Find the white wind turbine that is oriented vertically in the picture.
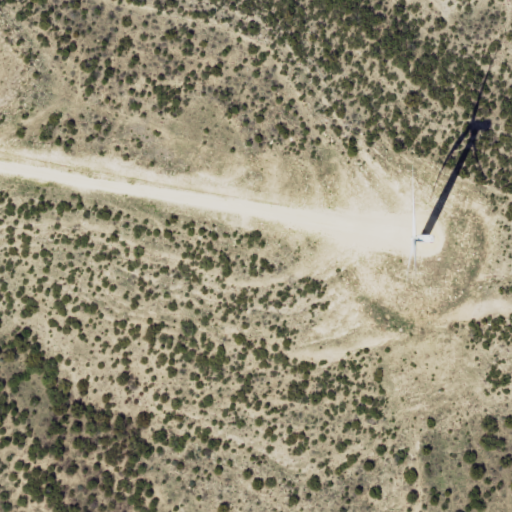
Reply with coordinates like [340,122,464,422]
[402,170,435,299]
